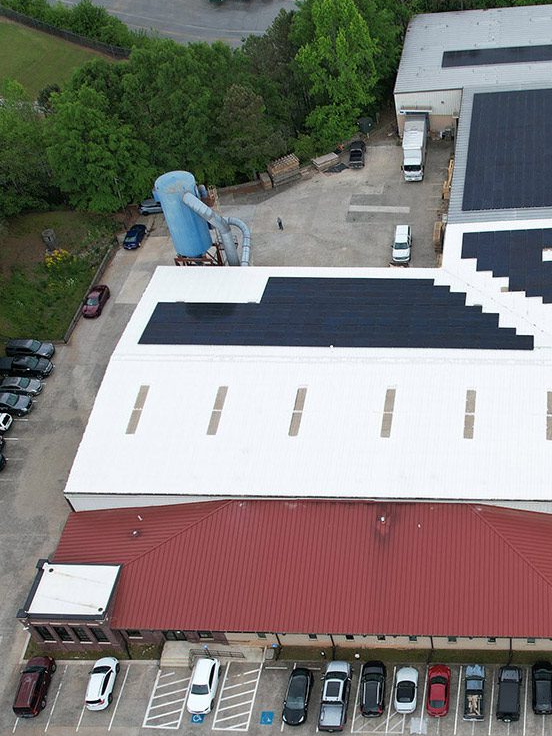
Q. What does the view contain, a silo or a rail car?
silo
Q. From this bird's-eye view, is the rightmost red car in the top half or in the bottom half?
bottom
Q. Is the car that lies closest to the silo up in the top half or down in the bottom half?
top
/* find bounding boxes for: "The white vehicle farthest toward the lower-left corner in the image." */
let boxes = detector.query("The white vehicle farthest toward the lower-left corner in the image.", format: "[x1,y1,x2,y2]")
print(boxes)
[83,656,122,713]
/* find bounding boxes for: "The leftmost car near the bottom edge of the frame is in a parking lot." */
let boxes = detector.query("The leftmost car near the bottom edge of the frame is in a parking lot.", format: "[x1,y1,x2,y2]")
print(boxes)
[11,657,55,719]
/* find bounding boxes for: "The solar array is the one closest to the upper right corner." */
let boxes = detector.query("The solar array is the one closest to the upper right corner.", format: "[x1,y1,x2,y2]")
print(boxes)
[441,43,552,66]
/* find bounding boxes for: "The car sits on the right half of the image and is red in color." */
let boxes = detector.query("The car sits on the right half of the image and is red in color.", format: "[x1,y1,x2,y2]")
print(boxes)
[425,664,453,721]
